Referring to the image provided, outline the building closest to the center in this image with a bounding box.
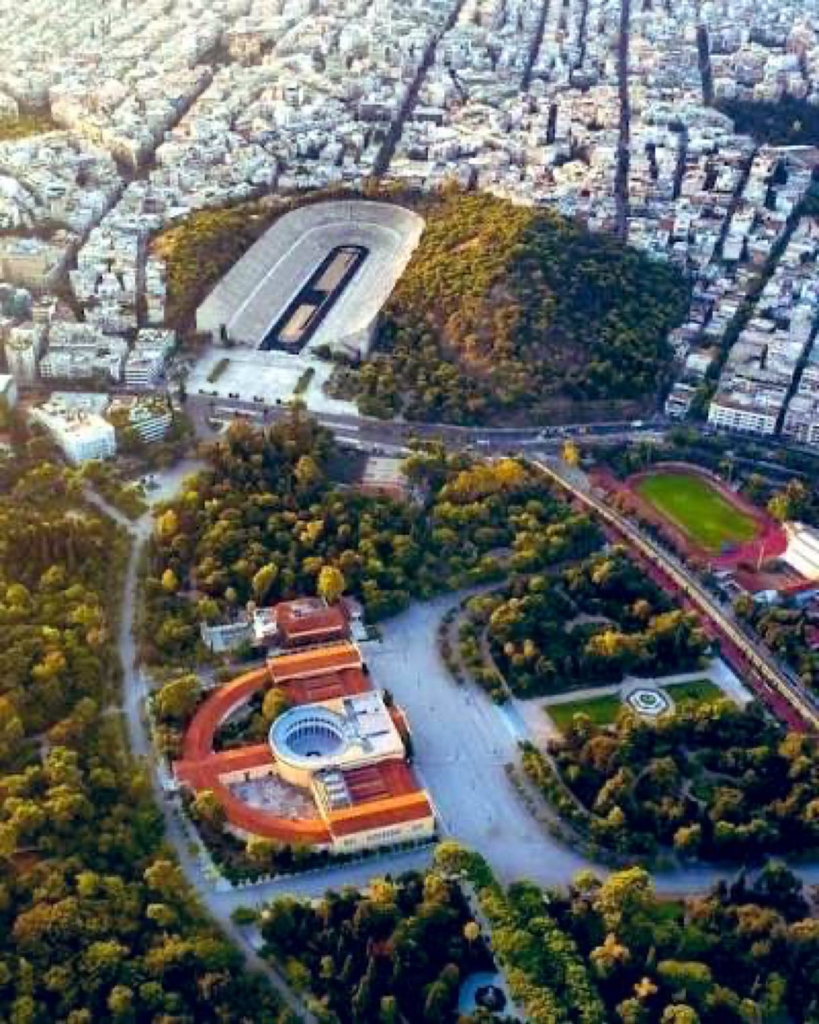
[362,457,408,487]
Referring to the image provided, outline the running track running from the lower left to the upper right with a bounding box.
[258,246,369,354]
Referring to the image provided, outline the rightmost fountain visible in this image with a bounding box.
[619,681,675,719]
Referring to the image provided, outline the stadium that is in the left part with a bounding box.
[195,198,426,354]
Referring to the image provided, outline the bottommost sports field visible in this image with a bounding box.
[636,470,764,551]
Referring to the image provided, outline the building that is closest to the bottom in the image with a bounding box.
[168,643,435,860]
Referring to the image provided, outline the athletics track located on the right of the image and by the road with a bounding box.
[621,459,788,566]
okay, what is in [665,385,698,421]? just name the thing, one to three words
building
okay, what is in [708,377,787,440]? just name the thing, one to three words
building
